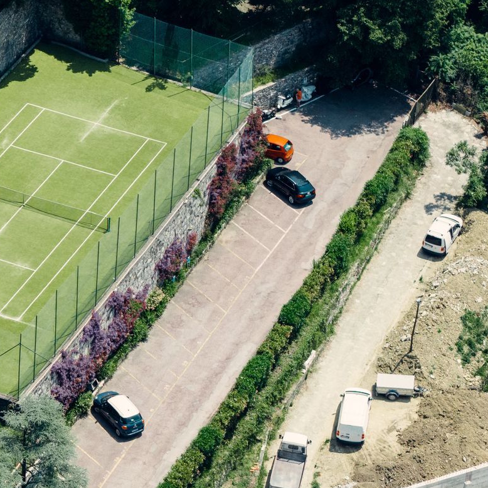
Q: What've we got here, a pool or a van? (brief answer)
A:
van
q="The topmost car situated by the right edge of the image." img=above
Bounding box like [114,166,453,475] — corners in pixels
[419,215,466,260]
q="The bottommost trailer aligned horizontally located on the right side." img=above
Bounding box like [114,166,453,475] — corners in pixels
[375,373,433,401]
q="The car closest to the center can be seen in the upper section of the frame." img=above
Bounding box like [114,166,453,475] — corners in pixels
[265,165,320,205]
